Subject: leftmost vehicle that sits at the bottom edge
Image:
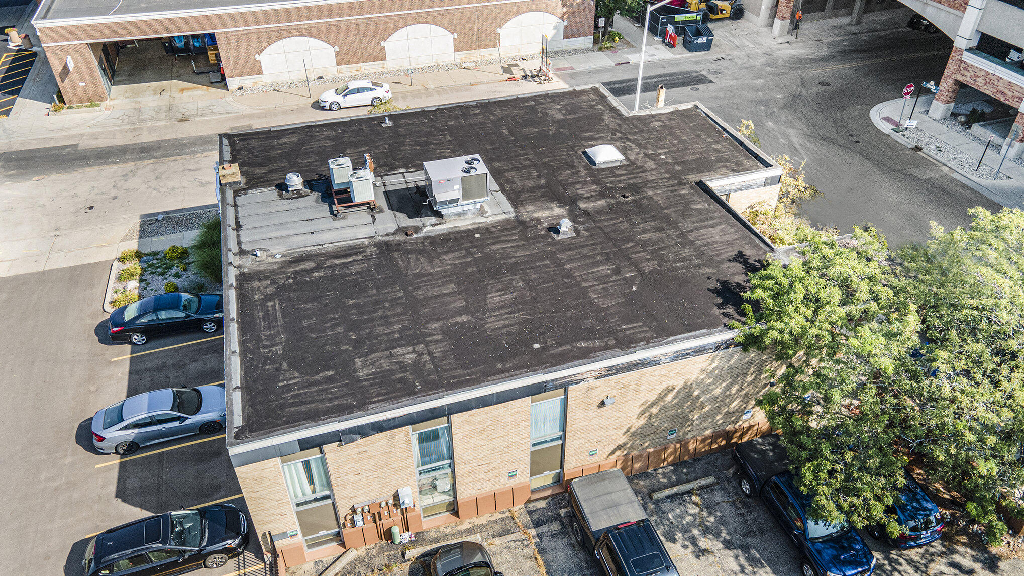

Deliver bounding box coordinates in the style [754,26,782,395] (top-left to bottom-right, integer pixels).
[70,495,250,576]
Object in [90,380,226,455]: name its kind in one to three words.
car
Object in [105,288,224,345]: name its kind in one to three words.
car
